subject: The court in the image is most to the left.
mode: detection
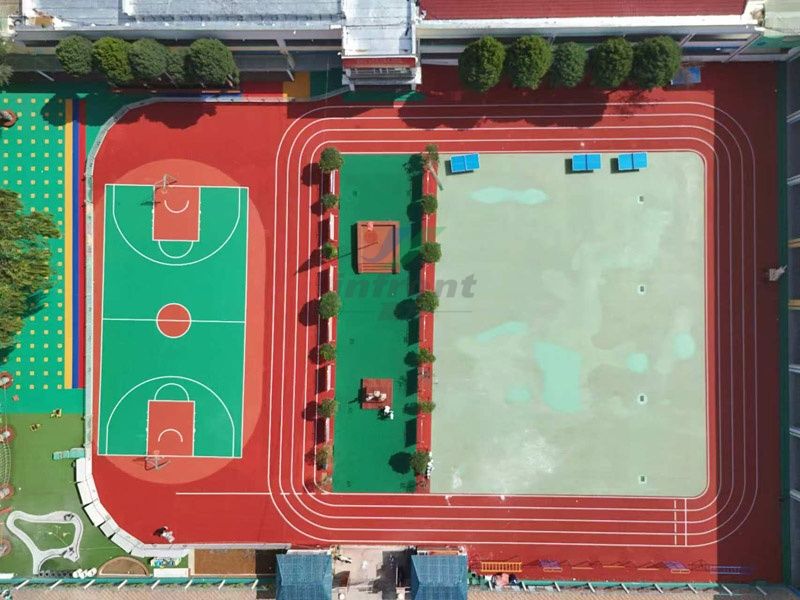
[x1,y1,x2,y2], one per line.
[91,161,264,485]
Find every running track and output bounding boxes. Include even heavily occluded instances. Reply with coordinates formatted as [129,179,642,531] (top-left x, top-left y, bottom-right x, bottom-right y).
[176,104,759,548]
